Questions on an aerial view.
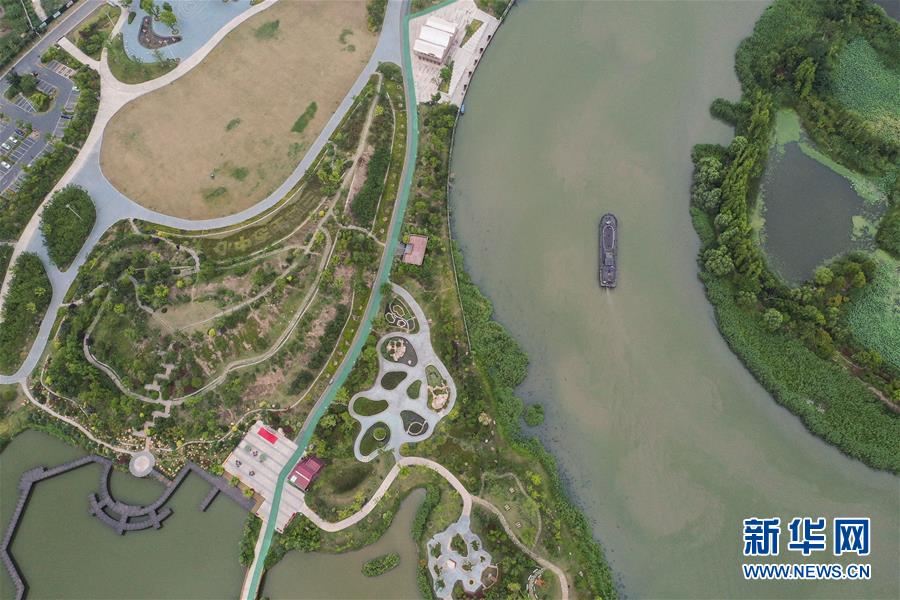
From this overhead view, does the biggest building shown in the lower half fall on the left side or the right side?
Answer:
left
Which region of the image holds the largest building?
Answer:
top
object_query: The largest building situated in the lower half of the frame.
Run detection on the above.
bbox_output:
[288,453,327,493]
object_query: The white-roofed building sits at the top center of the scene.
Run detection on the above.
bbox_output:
[412,17,458,64]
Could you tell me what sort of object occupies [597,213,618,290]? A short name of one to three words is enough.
ship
